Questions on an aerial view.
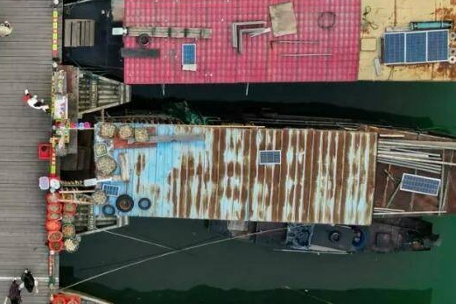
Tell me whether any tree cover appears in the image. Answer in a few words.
No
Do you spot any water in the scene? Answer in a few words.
Yes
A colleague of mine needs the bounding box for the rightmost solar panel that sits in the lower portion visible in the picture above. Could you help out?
[399,172,442,196]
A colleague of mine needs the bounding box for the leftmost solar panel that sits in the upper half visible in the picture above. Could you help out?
[181,43,196,66]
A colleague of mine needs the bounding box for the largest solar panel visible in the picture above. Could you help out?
[382,28,450,66]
